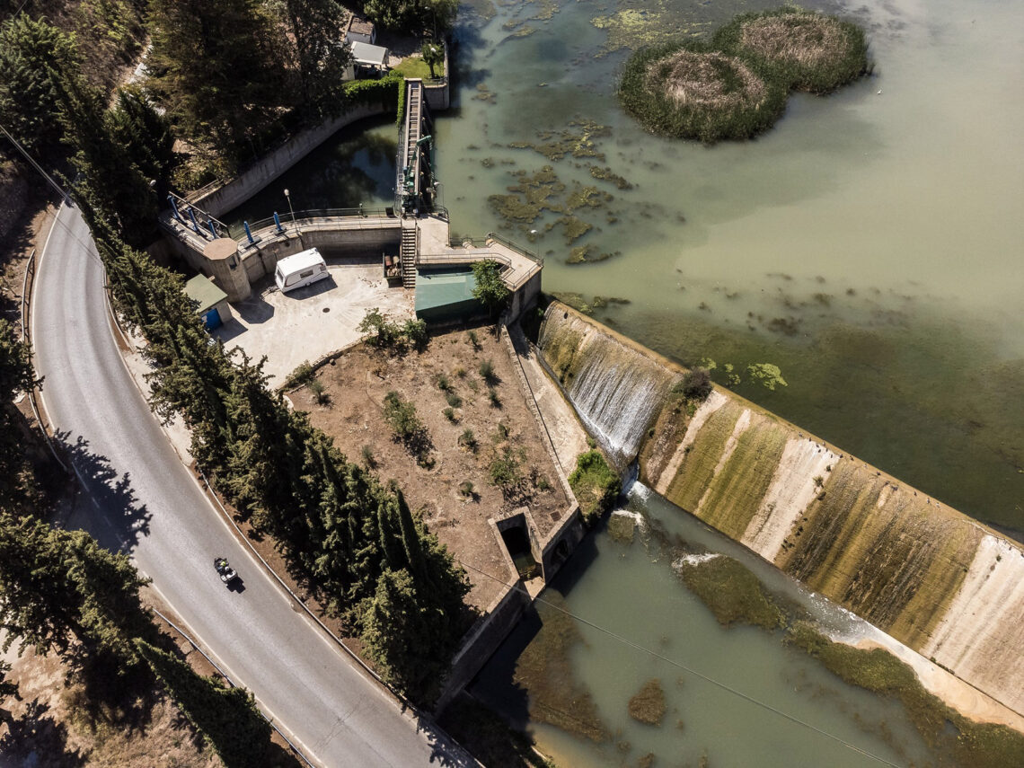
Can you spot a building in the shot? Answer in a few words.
Yes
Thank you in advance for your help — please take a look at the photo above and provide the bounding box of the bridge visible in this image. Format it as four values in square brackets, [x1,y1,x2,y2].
[399,74,429,217]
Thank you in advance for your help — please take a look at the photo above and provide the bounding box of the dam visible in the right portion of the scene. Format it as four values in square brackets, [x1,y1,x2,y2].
[526,300,1024,708]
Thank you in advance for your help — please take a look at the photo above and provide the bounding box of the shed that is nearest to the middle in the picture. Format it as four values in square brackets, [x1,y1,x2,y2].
[416,266,486,329]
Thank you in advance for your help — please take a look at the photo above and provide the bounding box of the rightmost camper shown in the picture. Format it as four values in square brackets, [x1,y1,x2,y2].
[262,245,328,295]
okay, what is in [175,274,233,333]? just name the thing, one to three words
shed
